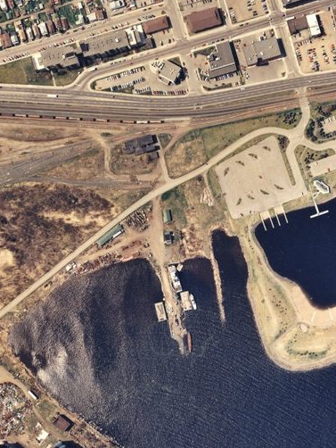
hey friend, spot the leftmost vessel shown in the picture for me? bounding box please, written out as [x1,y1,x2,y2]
[154,302,166,322]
